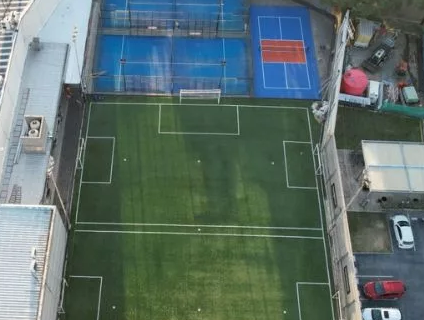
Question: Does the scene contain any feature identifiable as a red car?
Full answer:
Yes, this view includes a red car.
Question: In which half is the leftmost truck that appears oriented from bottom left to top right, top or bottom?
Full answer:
It is in the top half that the leftmost truck that appears oriented from bottom left to top right appears.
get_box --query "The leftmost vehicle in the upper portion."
[362,35,400,73]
